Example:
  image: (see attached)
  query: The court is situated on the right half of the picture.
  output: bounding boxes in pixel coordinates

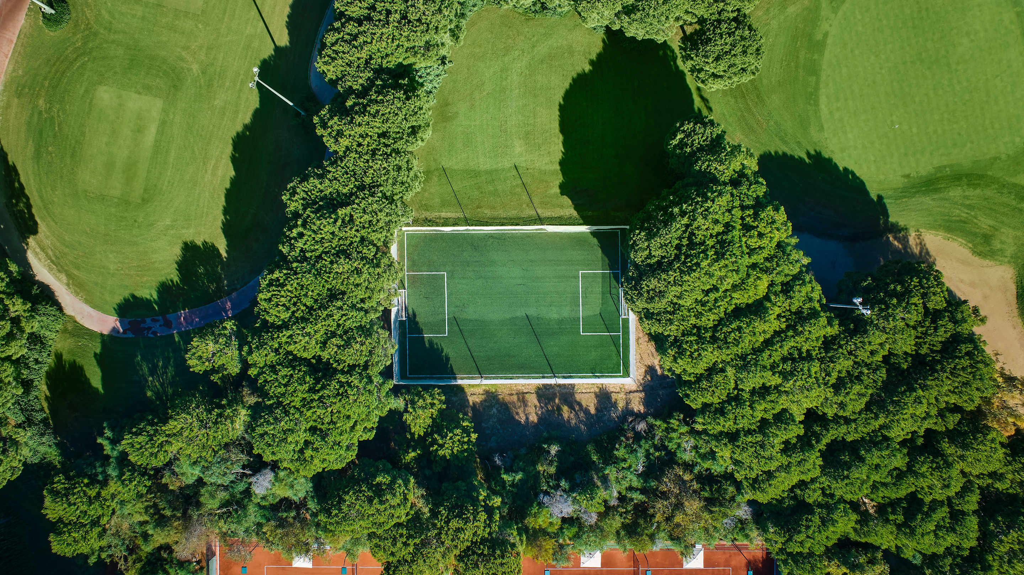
[521,544,769,575]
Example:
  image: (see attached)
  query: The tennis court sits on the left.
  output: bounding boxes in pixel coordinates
[220,539,385,575]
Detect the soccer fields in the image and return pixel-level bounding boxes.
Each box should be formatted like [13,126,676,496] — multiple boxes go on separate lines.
[398,229,630,379]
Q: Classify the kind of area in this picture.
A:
golf course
